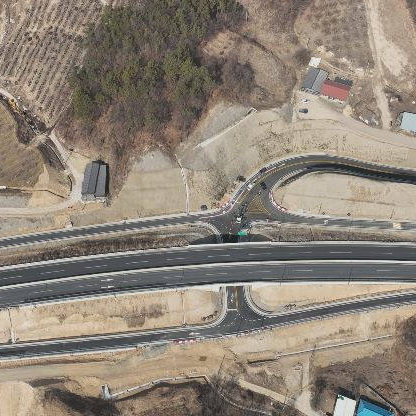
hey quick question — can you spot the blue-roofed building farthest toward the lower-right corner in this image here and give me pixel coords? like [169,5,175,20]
[353,399,393,416]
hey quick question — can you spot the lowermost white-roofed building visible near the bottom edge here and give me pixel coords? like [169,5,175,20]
[332,395,355,416]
